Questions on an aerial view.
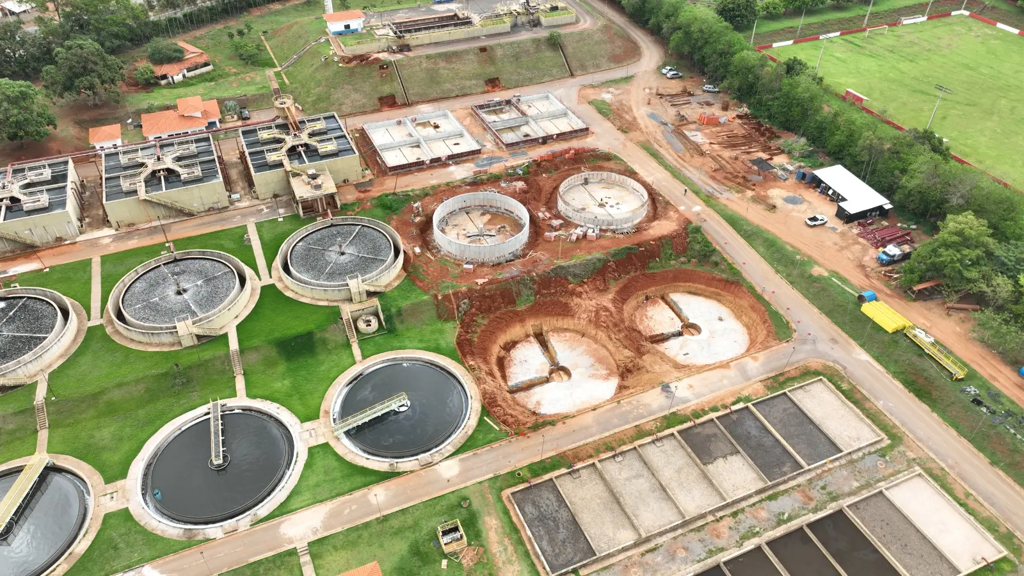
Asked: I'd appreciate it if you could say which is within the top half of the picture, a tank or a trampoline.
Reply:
tank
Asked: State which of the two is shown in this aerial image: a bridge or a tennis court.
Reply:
bridge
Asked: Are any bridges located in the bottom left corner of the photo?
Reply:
Yes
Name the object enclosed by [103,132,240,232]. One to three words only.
storage tank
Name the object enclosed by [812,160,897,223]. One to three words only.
shed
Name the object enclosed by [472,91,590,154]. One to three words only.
storage tank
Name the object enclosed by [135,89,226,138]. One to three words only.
house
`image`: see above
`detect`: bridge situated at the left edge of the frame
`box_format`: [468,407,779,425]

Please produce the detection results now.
[0,448,51,527]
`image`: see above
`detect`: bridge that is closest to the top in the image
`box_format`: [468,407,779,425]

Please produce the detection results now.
[904,325,970,379]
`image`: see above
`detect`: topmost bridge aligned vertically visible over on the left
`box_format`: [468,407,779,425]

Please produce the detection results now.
[206,396,229,463]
